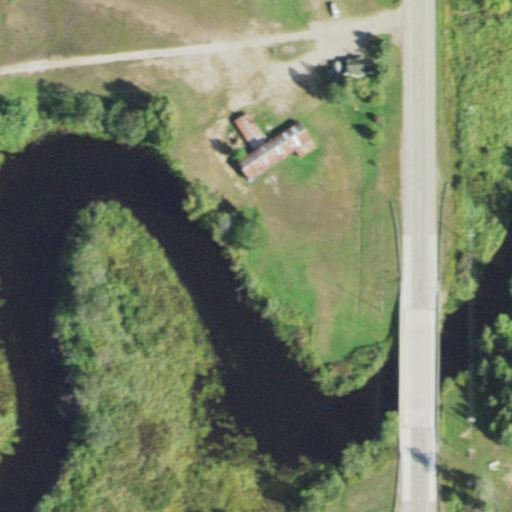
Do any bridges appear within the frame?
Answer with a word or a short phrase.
Yes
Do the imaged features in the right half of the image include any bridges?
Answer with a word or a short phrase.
Yes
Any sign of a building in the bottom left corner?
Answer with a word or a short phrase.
No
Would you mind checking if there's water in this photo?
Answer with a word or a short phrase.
Yes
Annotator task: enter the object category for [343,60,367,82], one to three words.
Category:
building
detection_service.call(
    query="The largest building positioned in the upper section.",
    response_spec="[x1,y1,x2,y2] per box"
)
[235,117,314,179]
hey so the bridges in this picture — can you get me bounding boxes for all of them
[398,302,440,431]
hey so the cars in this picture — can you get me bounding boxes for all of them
[334,60,342,74]
[331,2,339,18]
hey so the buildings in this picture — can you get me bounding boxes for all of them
[235,117,314,179]
[343,60,367,82]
